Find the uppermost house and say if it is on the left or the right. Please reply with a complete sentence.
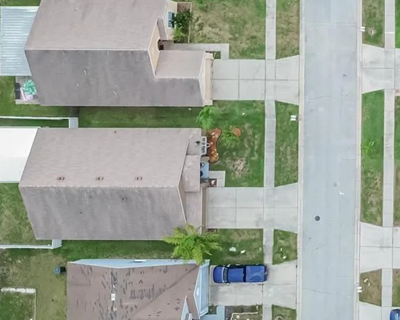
The uppermost house appears in the left half of the scene.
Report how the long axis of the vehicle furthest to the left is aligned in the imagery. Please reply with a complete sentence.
From this overhead view, the vehicle furthest to the left appears to run from left to right.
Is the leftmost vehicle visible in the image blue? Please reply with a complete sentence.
Yes, the leftmost vehicle appears blue.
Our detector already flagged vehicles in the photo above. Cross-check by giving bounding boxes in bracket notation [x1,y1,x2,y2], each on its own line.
[215,265,268,285]
[389,309,400,320]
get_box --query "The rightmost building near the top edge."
[20,0,214,106]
